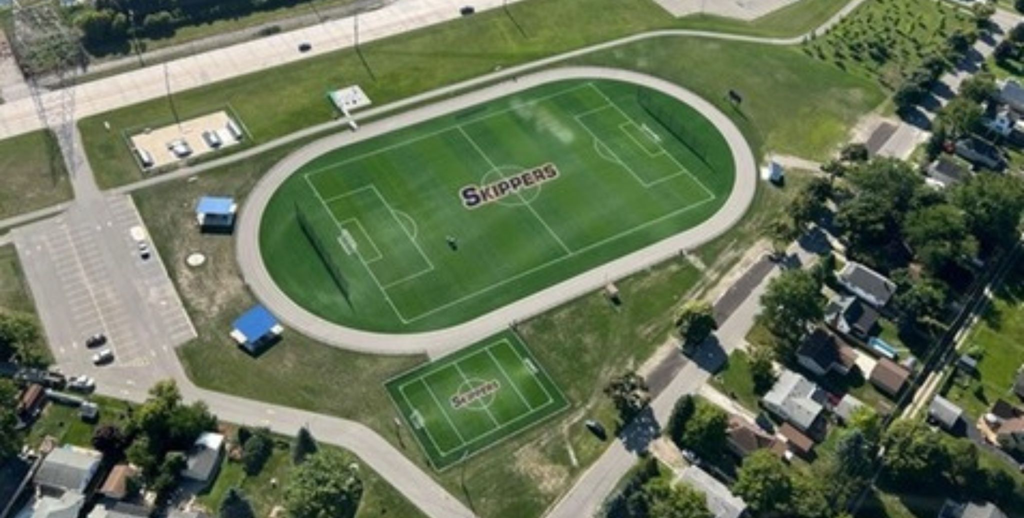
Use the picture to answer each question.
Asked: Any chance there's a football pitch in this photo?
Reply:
Yes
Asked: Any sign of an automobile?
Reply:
Yes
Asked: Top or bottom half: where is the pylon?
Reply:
top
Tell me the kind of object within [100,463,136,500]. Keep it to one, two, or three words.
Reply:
building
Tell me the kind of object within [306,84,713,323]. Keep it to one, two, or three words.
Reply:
soccer field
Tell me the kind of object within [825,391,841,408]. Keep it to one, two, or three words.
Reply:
car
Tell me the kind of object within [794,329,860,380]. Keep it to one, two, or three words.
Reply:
house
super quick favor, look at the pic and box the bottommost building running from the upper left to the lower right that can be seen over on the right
[682,465,746,518]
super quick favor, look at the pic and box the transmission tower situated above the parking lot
[10,0,69,77]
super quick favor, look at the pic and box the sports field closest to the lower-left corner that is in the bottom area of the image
[401,341,553,454]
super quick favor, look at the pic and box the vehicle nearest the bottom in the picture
[681,448,703,465]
